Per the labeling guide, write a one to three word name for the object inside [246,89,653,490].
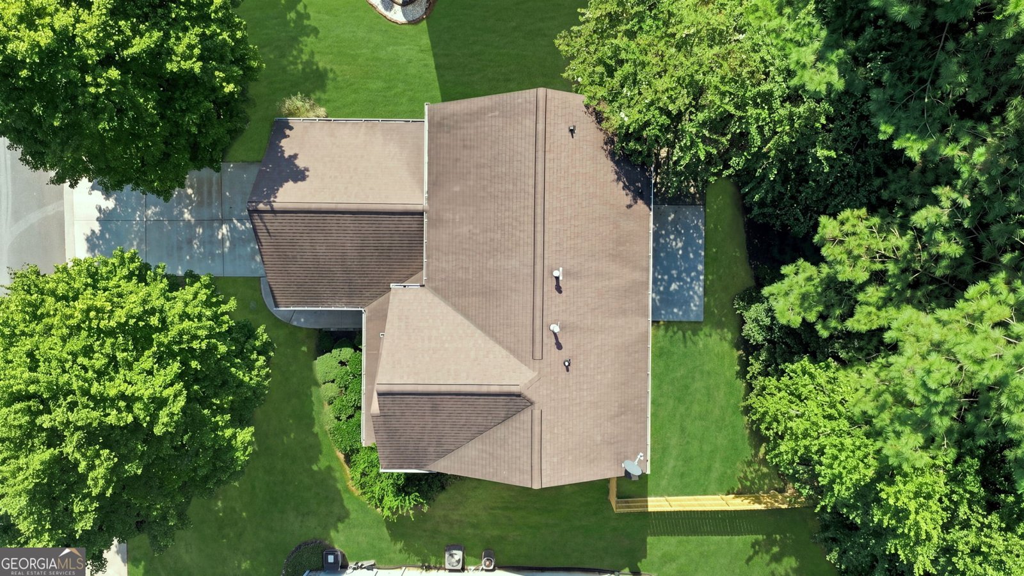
house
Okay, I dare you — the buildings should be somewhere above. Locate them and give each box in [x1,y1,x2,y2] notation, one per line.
[246,89,653,490]
[299,565,643,576]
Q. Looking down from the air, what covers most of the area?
trees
